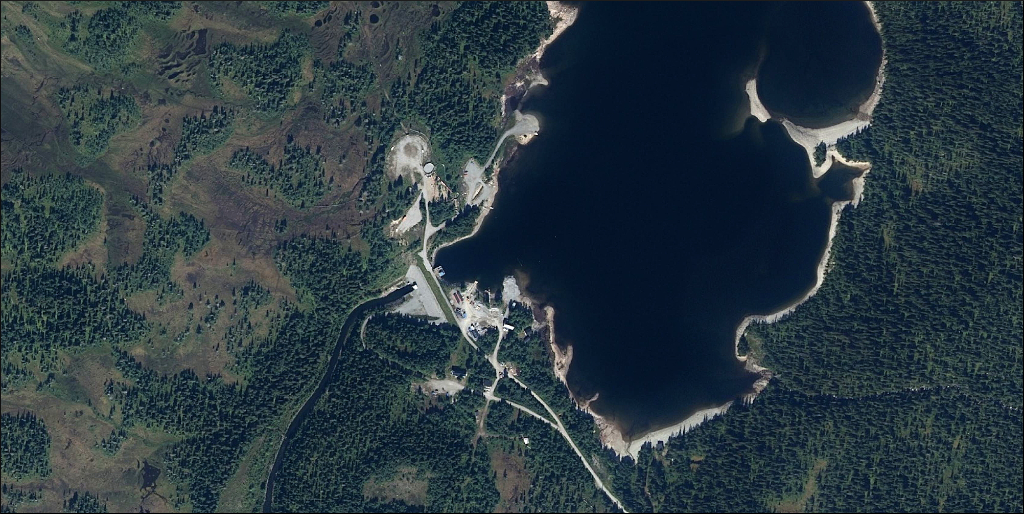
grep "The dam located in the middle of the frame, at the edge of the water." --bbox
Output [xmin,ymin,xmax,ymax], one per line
[391,255,459,326]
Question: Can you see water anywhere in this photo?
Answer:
Yes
